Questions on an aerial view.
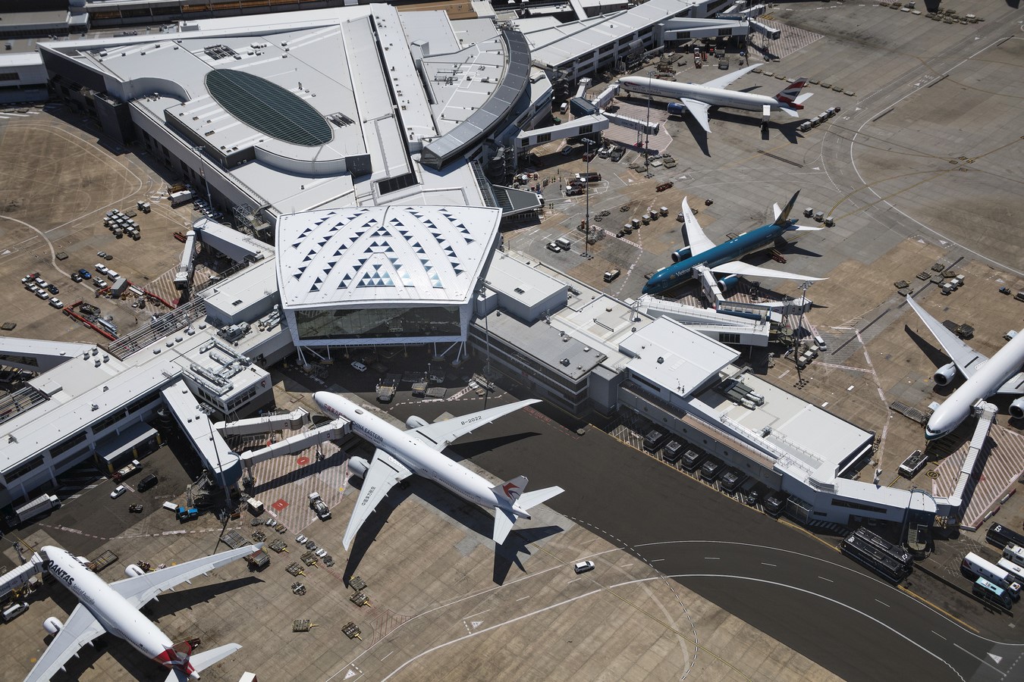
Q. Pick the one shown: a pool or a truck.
truck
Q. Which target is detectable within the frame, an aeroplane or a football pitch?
aeroplane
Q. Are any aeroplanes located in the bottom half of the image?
Yes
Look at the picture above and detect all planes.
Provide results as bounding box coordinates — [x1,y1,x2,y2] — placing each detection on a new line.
[908,283,1024,440]
[312,391,564,551]
[641,189,826,296]
[25,540,265,682]
[616,63,813,131]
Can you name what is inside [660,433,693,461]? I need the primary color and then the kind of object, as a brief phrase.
black bus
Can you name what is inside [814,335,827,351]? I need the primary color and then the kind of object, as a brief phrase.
white vehicle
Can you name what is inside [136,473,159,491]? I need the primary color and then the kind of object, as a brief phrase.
black vehicle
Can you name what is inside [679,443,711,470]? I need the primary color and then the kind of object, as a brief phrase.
black bus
